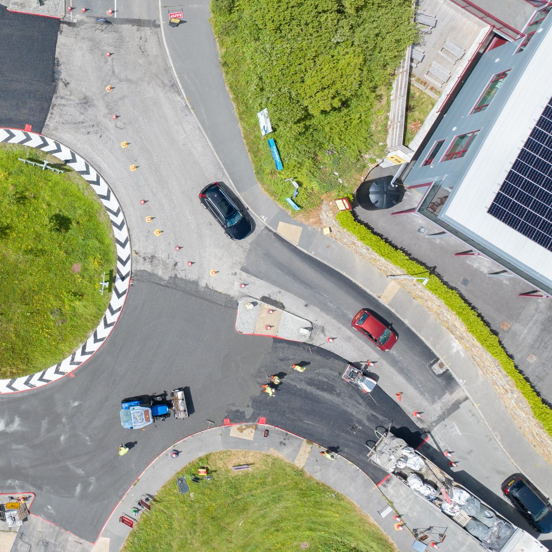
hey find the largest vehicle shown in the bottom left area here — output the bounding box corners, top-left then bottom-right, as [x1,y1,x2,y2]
[120,396,168,430]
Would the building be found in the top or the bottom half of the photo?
top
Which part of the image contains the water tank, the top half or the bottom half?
top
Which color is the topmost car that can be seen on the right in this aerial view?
red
